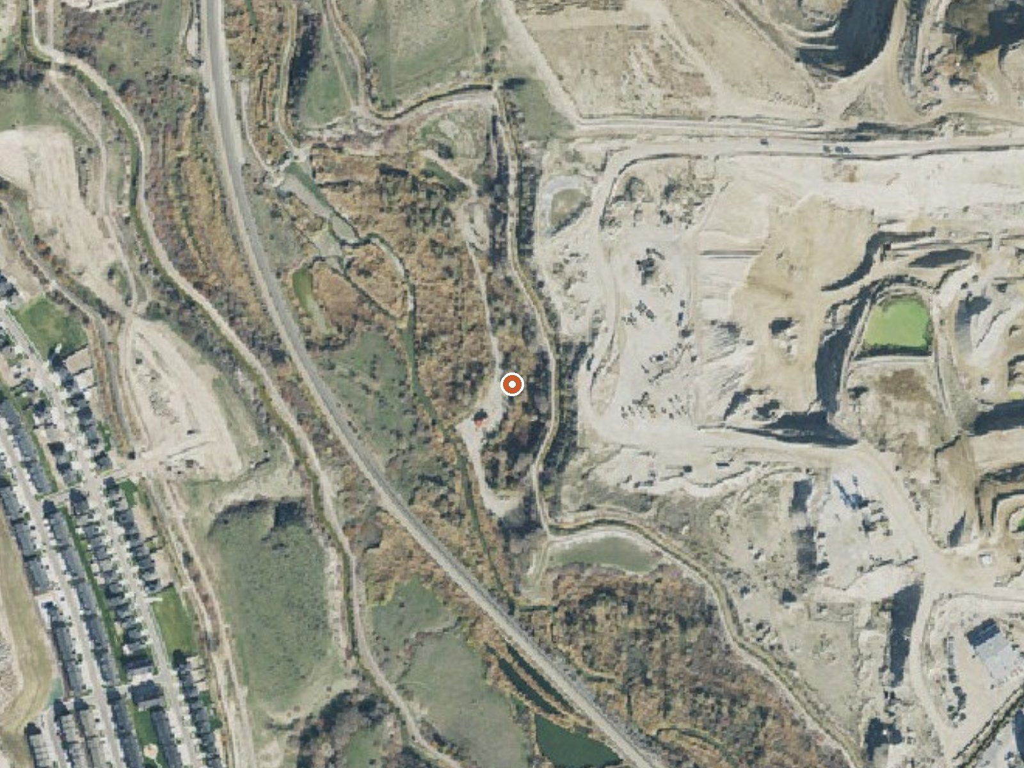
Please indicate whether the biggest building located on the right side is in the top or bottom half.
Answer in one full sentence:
It is in the bottom half that the biggest building located on the right side appears.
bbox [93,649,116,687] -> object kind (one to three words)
house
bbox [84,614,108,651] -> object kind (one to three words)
house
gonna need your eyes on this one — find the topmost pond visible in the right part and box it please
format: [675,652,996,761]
[864,297,930,348]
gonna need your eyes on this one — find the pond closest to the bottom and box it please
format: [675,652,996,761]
[536,715,620,768]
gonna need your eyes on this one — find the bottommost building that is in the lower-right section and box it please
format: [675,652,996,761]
[971,627,1012,669]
